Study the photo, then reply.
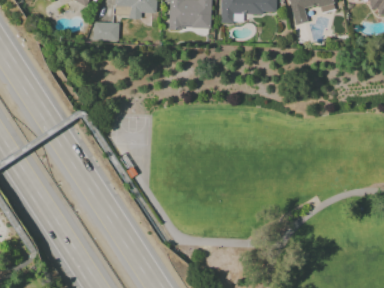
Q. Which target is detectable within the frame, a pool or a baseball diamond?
pool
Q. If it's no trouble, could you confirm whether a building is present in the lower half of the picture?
No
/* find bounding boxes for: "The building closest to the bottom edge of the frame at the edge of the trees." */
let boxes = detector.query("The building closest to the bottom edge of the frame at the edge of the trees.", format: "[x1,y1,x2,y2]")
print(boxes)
[95,22,120,42]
